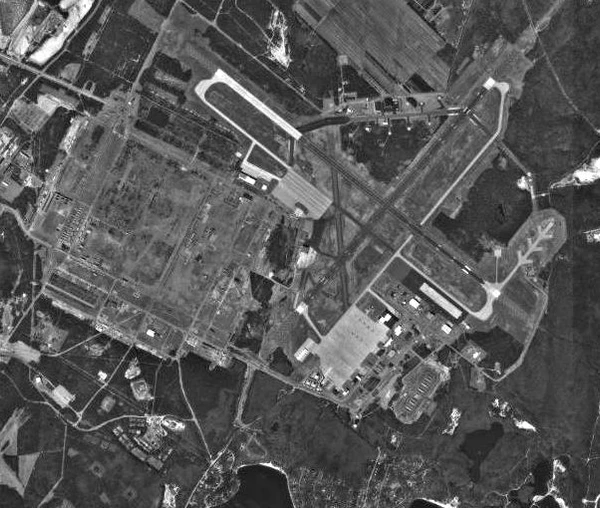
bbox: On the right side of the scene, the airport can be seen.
[195,70,553,390]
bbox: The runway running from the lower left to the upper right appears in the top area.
[296,78,496,304]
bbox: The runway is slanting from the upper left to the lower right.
[215,70,486,285]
